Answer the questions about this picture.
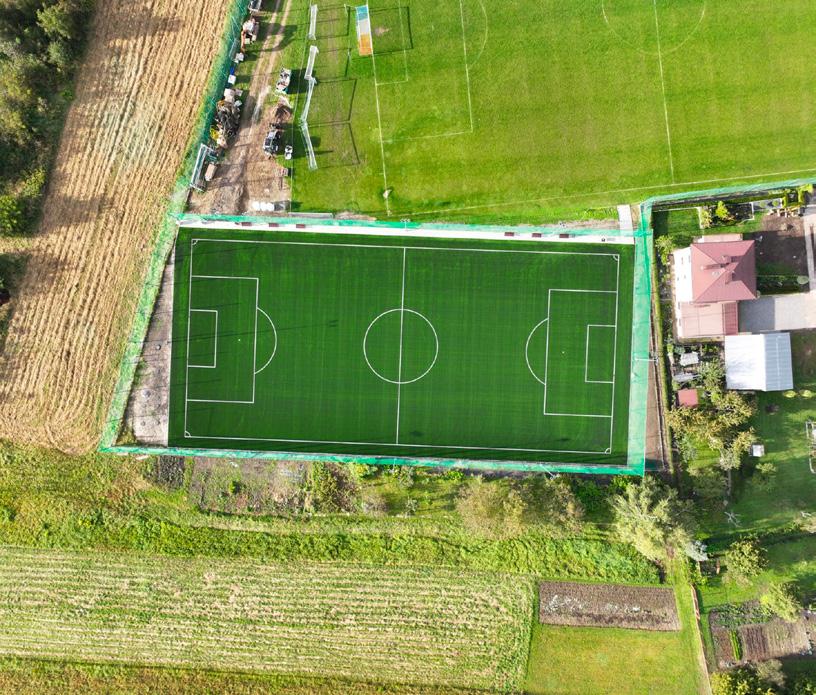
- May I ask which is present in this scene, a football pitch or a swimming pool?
football pitch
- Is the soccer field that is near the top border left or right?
right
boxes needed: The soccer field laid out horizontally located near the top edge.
[288,0,816,224]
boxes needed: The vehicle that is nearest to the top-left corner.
[242,18,258,56]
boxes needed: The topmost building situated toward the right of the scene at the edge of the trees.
[673,234,758,337]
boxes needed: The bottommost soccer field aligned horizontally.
[168,229,635,465]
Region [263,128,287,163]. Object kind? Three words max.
work vehicle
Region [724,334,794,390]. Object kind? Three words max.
shed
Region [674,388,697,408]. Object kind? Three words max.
shed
